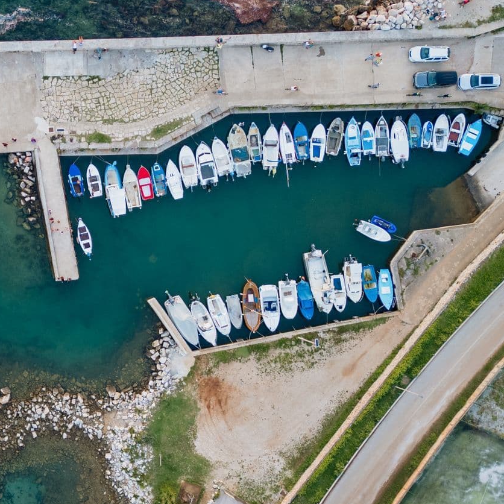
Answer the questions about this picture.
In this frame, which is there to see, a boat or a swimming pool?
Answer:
boat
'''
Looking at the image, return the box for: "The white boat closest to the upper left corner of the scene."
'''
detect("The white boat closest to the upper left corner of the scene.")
[86,157,103,198]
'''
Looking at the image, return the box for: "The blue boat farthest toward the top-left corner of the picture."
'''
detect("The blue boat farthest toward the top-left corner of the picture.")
[67,156,85,206]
